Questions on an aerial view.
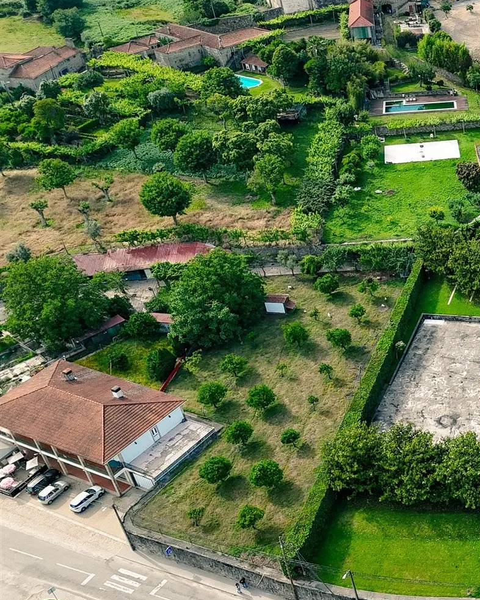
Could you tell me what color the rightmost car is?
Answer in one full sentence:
The rightmost car looks white in the image.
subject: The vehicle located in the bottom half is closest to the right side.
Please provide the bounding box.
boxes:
[62,482,107,514]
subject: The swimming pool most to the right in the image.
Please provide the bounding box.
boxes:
[383,97,458,112]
